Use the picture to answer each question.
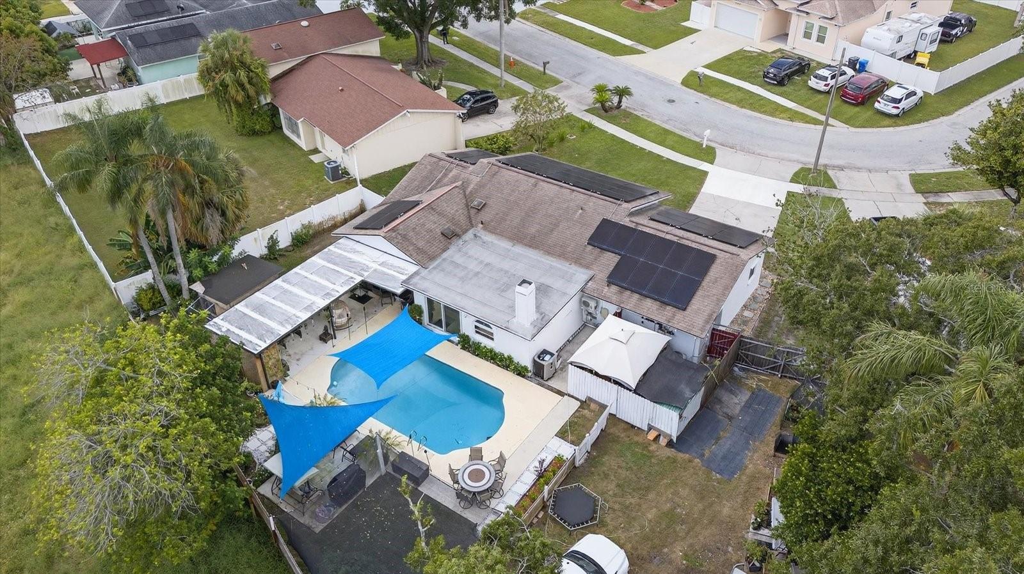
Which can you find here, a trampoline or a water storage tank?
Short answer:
trampoline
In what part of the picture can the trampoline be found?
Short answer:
bottom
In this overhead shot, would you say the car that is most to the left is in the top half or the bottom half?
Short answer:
top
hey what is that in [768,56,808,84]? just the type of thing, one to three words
car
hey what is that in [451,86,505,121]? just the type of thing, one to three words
car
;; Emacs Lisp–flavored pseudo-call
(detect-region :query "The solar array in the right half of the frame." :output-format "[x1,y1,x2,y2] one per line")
[587,216,717,309]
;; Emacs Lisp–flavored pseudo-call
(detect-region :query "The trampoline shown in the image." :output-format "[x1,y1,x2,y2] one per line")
[547,484,609,536]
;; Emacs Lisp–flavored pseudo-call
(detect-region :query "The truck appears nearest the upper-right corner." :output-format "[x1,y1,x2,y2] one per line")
[939,17,975,41]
